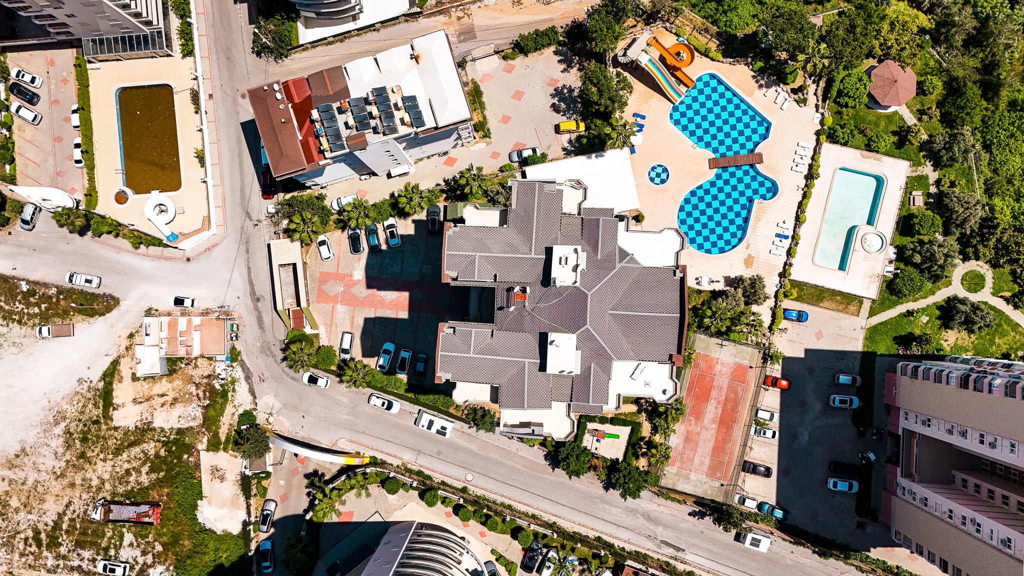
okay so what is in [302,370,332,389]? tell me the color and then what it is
white car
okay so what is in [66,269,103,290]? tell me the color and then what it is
white vehicle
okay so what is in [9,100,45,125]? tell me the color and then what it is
white car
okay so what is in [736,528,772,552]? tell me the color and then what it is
white vehicle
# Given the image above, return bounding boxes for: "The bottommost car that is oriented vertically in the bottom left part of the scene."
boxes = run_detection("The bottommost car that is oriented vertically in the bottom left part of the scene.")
[259,539,276,571]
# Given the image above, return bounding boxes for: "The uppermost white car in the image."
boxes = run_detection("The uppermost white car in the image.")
[11,69,44,89]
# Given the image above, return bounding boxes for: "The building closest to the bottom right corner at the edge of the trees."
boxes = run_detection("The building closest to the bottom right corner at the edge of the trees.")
[878,352,1024,576]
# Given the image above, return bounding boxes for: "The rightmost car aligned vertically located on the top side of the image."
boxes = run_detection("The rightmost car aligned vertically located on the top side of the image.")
[428,206,440,233]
